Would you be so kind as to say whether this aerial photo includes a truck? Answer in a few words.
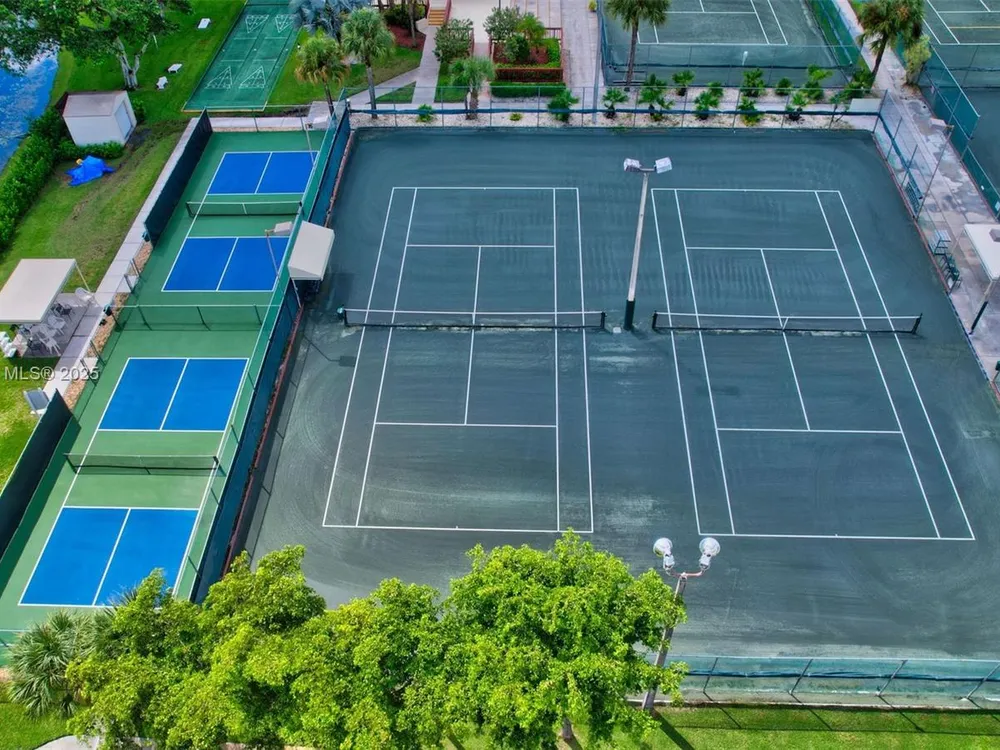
No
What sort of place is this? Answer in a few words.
sports ground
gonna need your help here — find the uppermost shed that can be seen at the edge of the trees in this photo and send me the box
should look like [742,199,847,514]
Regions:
[53,89,136,145]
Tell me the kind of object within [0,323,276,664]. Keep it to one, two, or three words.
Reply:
sports court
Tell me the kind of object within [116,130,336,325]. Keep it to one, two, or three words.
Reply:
sports court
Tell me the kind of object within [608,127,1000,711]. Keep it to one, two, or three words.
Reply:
tennis court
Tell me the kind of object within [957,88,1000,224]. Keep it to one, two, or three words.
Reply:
tennis court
